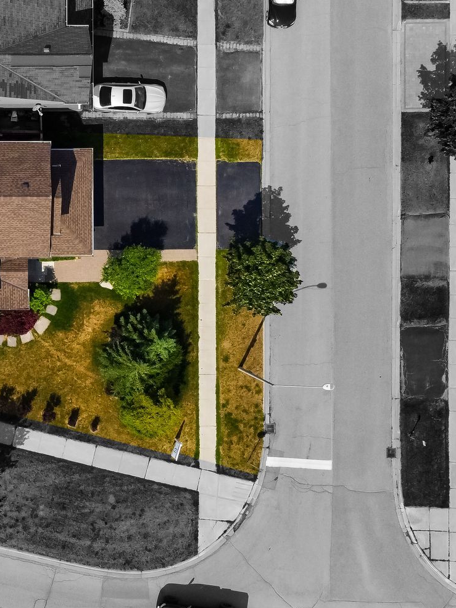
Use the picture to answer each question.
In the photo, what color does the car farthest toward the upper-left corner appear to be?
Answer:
white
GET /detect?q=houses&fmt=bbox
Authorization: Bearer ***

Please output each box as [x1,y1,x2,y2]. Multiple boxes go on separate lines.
[0,140,96,312]
[0,0,94,118]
